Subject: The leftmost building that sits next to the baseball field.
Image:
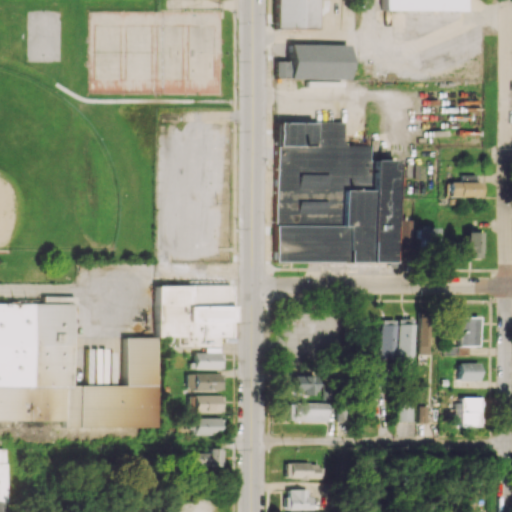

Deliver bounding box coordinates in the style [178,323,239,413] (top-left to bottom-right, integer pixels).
[0,296,158,429]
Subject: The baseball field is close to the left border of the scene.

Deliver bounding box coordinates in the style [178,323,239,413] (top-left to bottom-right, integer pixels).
[0,62,115,253]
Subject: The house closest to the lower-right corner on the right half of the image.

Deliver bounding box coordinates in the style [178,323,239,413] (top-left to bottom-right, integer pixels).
[453,397,485,428]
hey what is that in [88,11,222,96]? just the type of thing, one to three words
tennis court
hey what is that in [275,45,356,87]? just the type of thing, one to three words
building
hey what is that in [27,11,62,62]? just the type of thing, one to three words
basketball court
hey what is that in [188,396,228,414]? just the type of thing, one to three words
house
